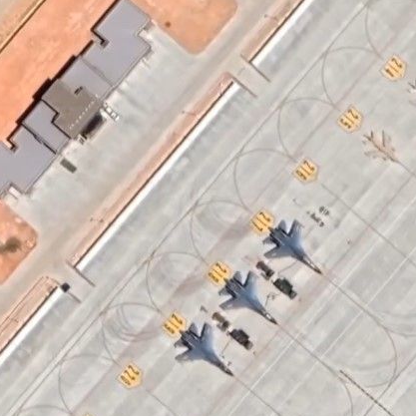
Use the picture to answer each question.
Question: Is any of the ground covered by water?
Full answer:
No, there is no water in the image.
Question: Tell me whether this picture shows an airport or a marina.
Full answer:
What you see here is an airport.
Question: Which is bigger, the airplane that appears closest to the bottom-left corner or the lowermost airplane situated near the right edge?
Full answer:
Compared with the lowermost airplane situated near the right edge, the airplane that appears closest to the bottom-left corner is the larger one.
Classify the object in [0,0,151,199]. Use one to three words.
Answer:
building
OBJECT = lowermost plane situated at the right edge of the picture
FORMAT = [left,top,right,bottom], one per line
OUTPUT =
[360,127,397,161]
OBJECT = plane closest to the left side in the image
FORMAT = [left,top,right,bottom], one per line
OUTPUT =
[174,323,233,376]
